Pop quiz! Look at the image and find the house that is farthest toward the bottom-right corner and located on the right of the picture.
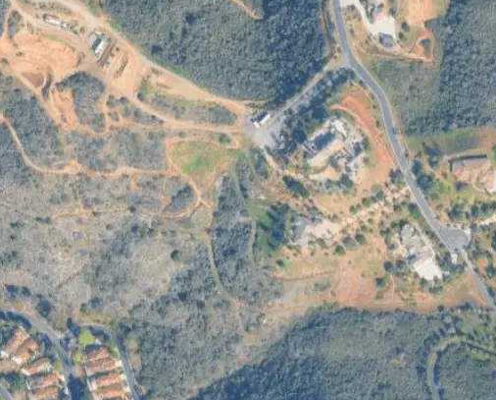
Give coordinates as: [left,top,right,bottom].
[392,217,429,266]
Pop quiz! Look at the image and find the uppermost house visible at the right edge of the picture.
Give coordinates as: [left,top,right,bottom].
[440,153,496,182]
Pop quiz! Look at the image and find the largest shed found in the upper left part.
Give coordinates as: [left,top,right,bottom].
[87,31,117,54]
